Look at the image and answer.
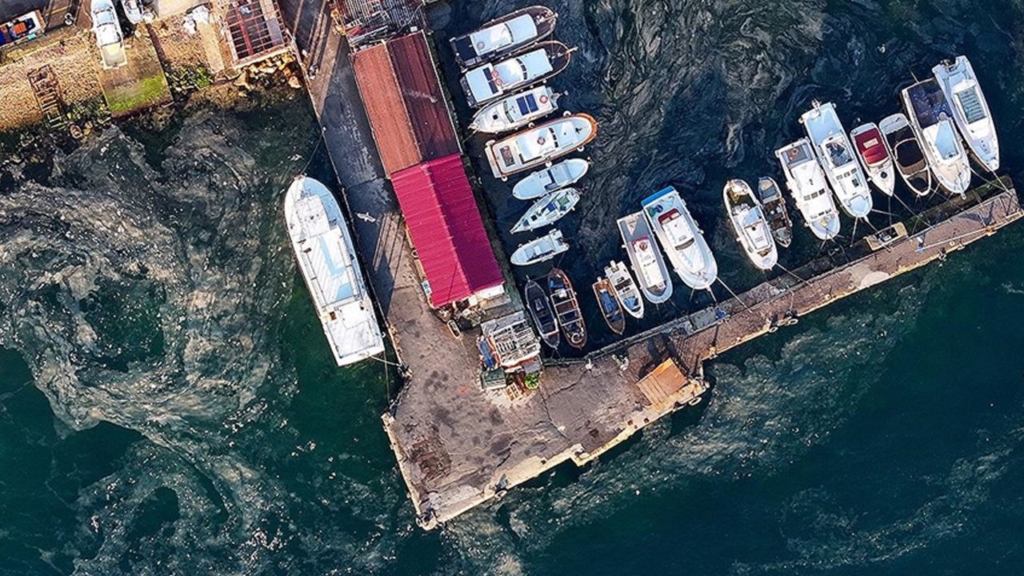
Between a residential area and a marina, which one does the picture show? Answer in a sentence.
What you see here is a marina.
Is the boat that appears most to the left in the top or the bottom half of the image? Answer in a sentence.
The boat that appears most to the left sits in the top half of the picture.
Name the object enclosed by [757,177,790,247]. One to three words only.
boat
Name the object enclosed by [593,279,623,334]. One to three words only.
boat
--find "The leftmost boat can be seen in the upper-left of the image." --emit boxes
[0,10,49,48]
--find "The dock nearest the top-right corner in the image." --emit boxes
[298,0,1024,530]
